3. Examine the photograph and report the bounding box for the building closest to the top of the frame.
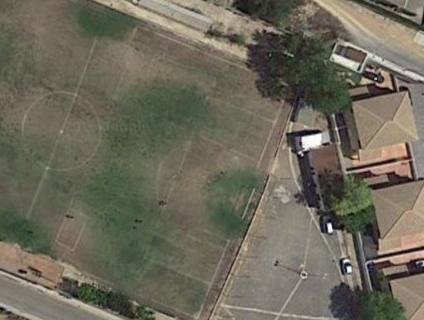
[325,41,369,64]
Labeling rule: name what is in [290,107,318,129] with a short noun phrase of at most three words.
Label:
shed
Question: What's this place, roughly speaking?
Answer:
sports ground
